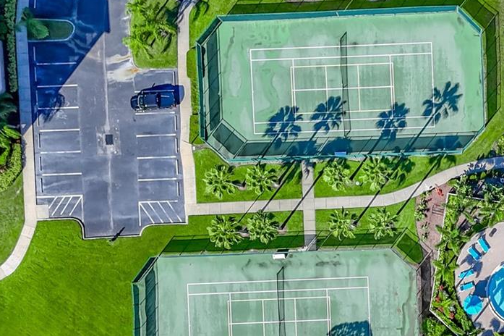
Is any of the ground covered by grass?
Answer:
Yes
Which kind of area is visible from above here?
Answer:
sports ground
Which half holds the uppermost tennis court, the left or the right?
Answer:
right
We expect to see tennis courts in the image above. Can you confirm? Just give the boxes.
[137,248,420,336]
[201,10,486,163]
